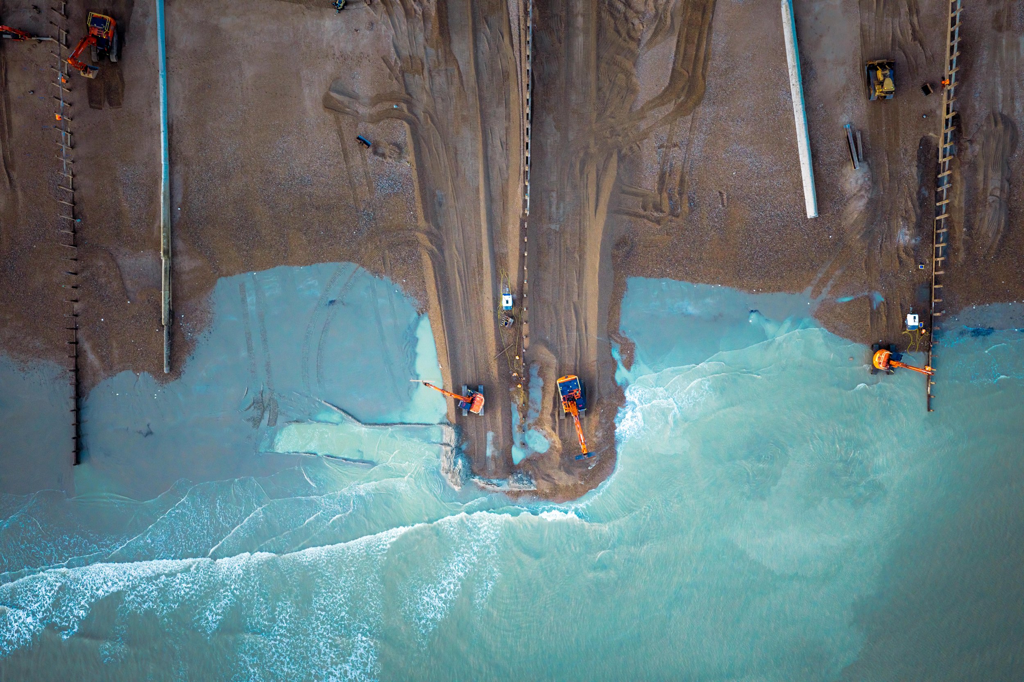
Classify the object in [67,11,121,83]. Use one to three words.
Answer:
work vehicle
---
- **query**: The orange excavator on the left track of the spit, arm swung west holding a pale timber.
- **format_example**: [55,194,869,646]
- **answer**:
[421,382,486,417]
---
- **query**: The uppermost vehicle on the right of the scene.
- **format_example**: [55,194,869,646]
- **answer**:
[863,64,898,105]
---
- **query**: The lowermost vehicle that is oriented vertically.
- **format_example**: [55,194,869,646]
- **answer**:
[558,376,595,458]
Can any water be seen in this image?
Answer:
Yes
